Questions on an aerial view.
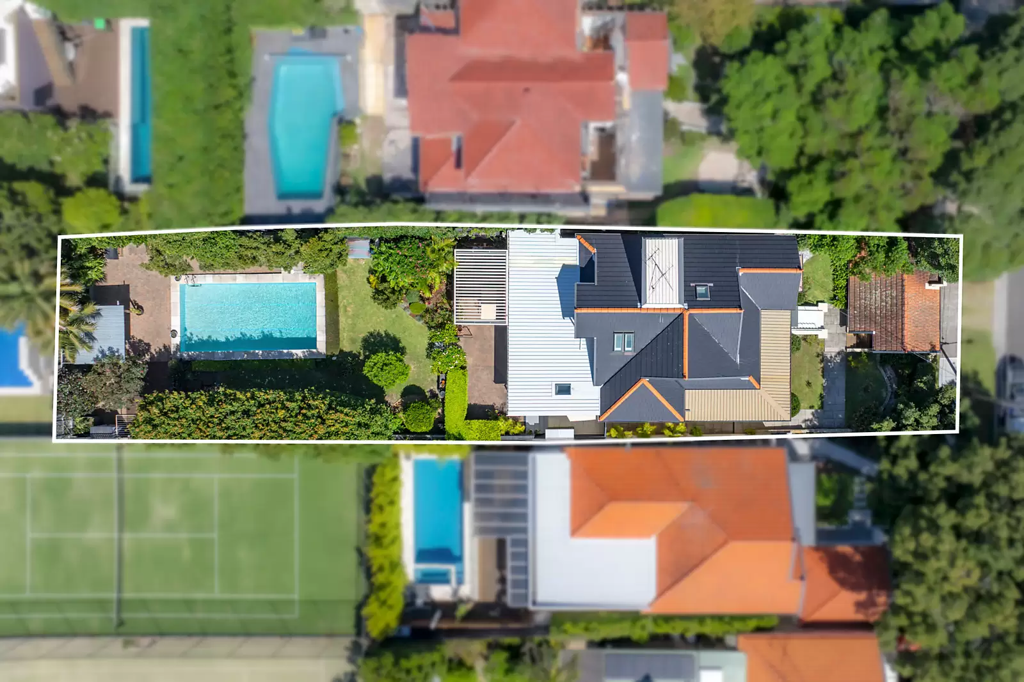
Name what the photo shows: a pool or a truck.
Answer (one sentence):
The one in the frame is a pool.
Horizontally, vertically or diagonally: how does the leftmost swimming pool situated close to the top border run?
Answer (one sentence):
The leftmost swimming pool situated close to the top border has been laid out vertically relative to the frame.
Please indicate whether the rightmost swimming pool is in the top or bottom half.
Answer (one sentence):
Seen from above, the rightmost swimming pool lies in the bottom half of the view.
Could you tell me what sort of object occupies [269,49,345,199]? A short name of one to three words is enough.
swimming pool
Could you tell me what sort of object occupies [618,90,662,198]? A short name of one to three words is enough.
shed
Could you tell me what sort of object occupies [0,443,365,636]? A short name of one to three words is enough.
tennis court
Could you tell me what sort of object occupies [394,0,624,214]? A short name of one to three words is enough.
house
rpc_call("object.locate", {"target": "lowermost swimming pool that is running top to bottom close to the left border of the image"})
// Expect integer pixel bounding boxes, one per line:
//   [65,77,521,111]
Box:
[0,295,42,394]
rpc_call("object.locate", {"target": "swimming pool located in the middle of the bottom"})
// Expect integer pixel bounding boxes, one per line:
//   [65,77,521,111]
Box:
[401,453,475,600]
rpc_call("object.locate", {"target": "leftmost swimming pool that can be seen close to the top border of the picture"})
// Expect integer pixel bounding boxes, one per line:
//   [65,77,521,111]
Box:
[119,18,151,192]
